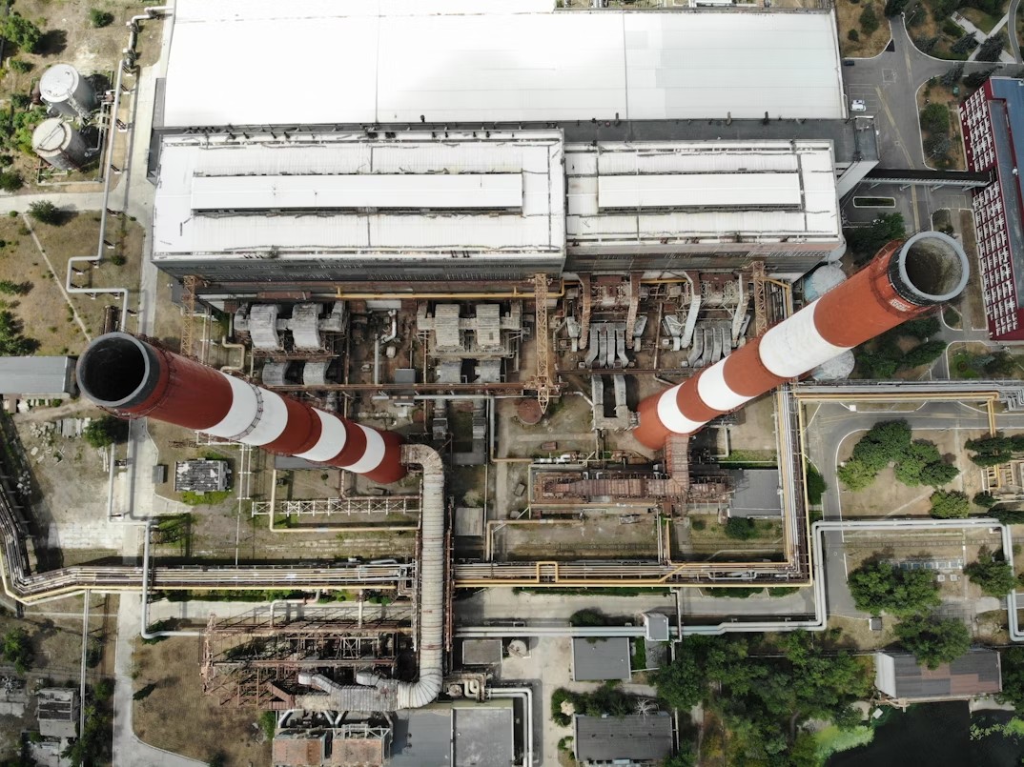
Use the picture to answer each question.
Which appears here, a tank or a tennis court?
tank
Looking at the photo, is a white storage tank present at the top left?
Yes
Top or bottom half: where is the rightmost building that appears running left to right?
bottom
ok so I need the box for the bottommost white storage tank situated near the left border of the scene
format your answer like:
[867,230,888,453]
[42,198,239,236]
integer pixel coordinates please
[33,122,84,167]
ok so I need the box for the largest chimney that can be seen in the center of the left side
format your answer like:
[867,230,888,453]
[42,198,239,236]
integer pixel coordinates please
[75,329,406,484]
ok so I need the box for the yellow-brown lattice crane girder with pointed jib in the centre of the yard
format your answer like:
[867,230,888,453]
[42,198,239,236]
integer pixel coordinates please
[526,285,561,412]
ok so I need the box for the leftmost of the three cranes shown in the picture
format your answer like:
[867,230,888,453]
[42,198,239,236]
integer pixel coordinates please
[179,279,220,360]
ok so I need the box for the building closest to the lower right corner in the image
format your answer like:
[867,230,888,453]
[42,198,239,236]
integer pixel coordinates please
[867,651,1006,703]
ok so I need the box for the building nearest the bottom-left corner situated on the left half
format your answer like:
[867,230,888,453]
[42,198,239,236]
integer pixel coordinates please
[34,685,82,741]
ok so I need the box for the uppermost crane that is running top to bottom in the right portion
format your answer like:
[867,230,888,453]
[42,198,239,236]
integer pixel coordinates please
[746,267,768,340]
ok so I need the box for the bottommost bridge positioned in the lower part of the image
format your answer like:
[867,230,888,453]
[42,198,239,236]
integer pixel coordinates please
[252,498,420,516]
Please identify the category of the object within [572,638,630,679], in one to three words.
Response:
building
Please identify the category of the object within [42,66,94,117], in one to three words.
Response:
storage tank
